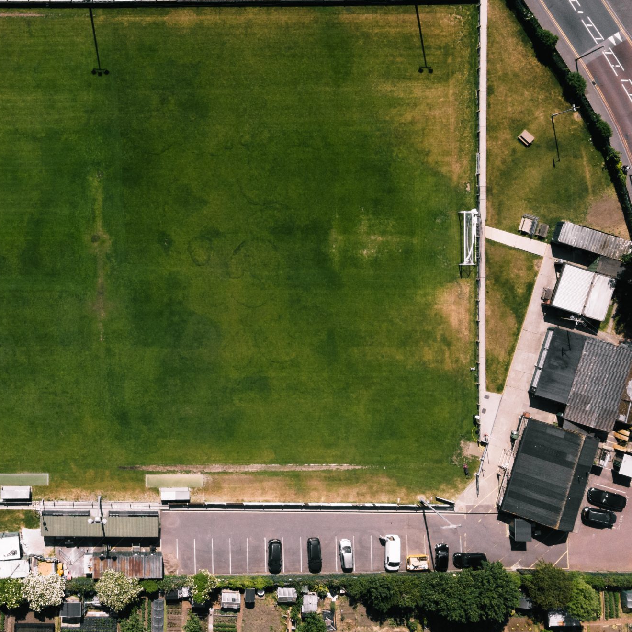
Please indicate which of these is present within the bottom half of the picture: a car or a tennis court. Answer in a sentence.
What appears within the bottom half of the picture is a car.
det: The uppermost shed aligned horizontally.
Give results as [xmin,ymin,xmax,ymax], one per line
[553,221,632,261]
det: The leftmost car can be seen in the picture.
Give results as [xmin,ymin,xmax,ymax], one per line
[267,537,284,575]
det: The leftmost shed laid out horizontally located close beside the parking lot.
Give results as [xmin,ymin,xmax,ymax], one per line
[92,546,163,578]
